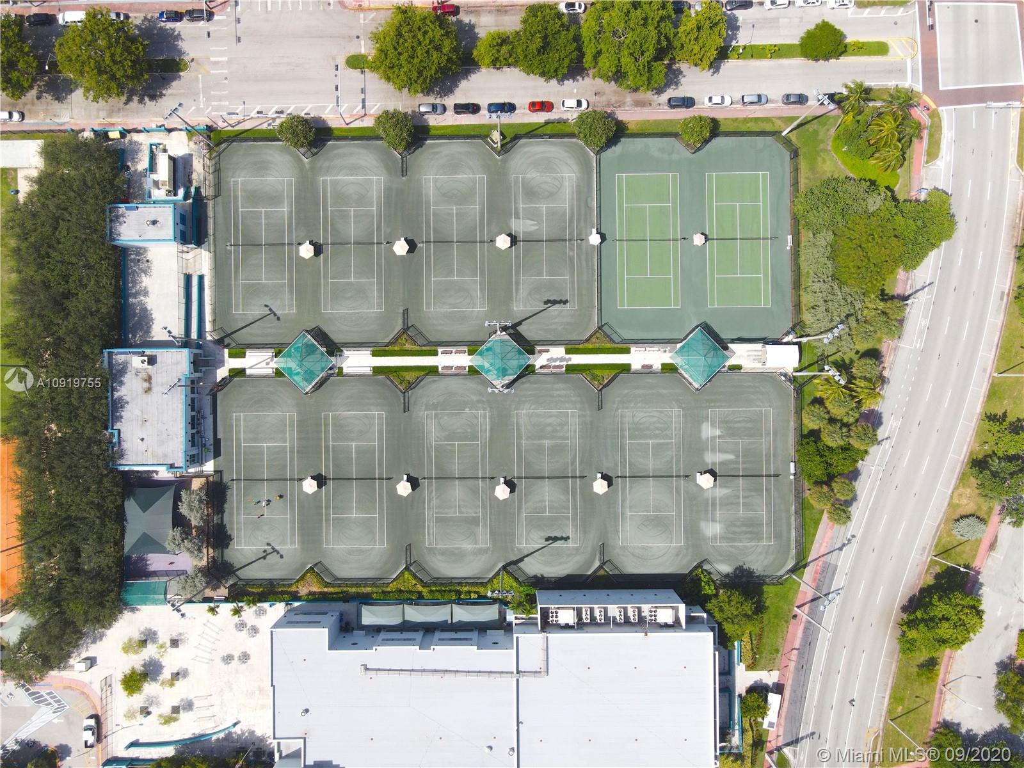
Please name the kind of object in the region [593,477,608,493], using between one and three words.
umbrella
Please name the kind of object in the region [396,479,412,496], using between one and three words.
umbrella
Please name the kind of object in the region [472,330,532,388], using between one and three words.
building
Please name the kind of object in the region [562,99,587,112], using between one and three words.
vehicle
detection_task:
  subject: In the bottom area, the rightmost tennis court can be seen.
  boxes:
[695,374,794,573]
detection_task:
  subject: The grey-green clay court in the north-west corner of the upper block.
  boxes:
[211,143,307,344]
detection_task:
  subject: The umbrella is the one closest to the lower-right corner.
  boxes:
[698,471,713,488]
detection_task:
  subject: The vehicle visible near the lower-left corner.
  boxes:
[82,715,99,749]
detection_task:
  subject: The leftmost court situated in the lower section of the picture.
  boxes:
[215,378,311,578]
